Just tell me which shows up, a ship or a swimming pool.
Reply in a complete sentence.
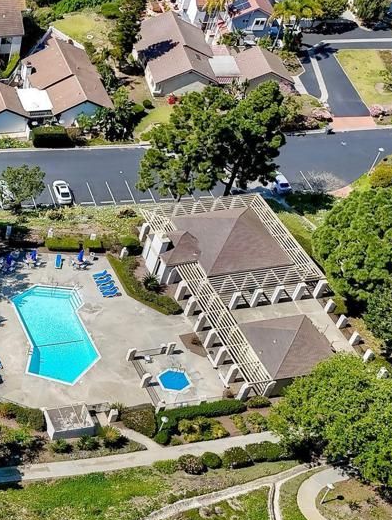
This aerial view contains a swimming pool.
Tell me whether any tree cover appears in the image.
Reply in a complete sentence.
Yes, the picture does contain tree cover.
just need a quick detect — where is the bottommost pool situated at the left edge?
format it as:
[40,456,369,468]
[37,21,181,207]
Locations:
[10,280,101,385]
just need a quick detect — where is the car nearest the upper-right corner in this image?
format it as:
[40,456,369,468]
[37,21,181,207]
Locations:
[362,21,392,36]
